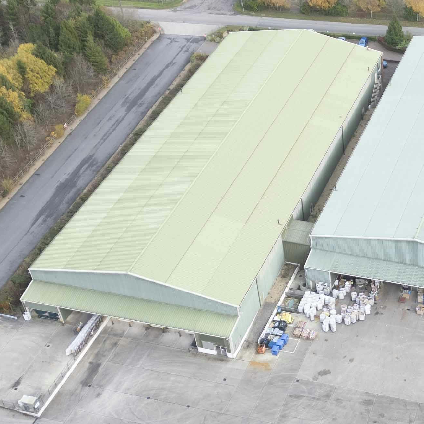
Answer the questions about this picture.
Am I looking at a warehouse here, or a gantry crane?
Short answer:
warehouse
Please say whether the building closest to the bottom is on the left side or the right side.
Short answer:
left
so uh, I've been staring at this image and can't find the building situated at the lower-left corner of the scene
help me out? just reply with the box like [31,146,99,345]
[15,389,40,410]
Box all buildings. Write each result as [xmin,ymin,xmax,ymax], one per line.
[302,34,424,306]
[20,25,384,359]
[15,389,40,410]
